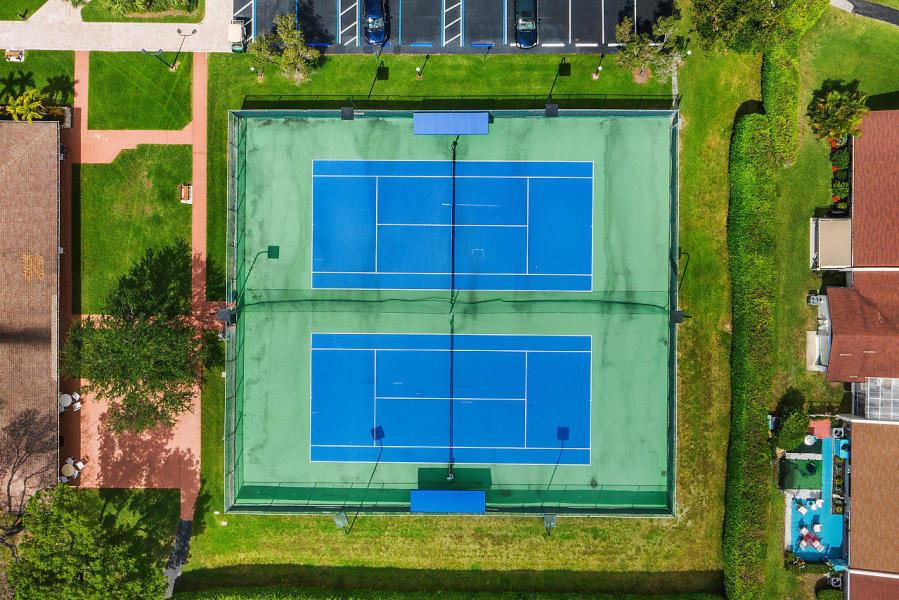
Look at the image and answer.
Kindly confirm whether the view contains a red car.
No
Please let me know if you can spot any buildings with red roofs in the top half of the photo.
Yes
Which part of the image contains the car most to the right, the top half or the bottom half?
top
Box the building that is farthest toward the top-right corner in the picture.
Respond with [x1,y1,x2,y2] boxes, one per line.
[811,108,899,268]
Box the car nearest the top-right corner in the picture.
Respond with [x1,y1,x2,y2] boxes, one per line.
[514,0,541,48]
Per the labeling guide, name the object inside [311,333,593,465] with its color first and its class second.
blue tennis court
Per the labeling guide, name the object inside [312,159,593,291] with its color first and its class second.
blue tennis court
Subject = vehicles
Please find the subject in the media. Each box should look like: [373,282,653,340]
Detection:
[514,0,541,48]
[225,17,244,49]
[361,0,388,45]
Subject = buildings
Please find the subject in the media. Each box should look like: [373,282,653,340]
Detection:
[811,108,899,268]
[819,271,899,381]
[843,570,899,600]
[0,119,61,512]
[845,421,899,571]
